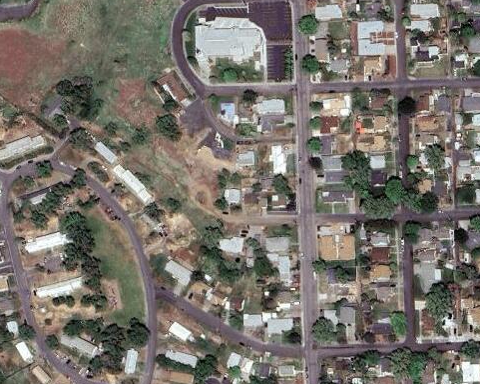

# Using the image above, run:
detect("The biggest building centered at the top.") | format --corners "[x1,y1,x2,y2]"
[196,17,265,64]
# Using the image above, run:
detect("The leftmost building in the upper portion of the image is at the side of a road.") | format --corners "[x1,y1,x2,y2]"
[0,139,32,165]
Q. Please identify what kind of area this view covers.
residential area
